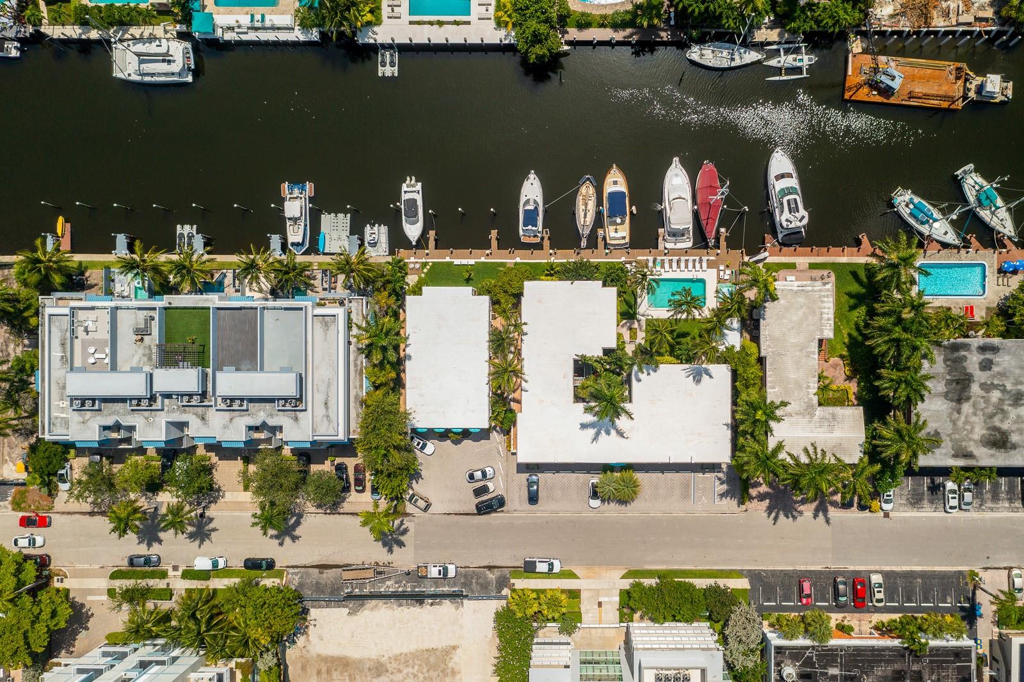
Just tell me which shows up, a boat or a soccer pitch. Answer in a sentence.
I can see a boat in this picture.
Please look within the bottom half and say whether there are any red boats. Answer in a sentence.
No, I can find no red boat within the bottom half.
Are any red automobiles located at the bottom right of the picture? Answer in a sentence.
Yes, a red automobile shows up at the bottom right of the picture.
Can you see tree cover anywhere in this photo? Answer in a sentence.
Yes, tree cover can be seen from above here.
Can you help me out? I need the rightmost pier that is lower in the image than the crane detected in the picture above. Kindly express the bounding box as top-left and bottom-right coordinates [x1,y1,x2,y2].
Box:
[764,233,1024,274]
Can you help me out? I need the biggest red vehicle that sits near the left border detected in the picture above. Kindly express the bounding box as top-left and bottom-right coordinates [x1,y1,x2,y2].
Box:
[18,510,53,528]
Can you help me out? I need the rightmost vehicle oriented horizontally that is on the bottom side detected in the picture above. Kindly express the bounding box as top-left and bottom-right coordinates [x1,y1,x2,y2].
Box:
[523,556,561,574]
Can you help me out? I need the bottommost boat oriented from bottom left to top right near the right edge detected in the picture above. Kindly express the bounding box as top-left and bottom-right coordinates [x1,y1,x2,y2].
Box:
[949,162,974,180]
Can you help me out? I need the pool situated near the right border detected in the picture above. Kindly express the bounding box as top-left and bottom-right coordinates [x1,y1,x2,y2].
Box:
[915,259,990,300]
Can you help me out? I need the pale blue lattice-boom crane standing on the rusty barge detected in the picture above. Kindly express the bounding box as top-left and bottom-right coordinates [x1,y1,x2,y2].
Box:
[846,5,903,100]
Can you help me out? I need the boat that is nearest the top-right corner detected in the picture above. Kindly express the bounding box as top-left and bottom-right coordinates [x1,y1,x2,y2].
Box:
[961,63,1012,108]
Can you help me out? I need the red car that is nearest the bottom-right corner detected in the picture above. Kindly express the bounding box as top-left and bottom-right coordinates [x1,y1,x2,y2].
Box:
[851,577,867,608]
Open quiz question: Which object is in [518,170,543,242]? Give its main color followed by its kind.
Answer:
white boat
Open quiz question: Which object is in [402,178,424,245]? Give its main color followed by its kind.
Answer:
white boat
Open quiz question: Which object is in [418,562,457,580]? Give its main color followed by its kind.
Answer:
white vehicle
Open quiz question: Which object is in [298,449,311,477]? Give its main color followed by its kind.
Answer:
black vehicle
